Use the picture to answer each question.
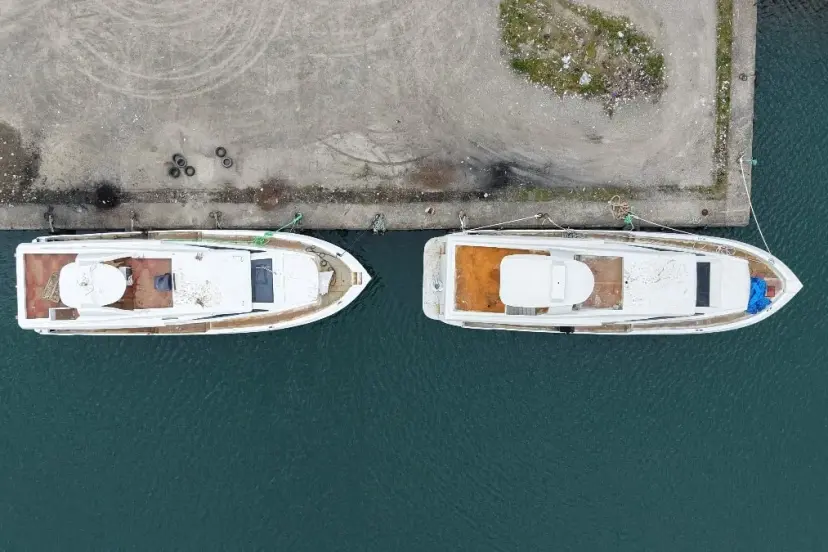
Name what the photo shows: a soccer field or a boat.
boat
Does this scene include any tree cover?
No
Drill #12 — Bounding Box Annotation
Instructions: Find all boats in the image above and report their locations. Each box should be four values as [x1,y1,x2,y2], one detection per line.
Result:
[13,230,372,335]
[423,230,803,334]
